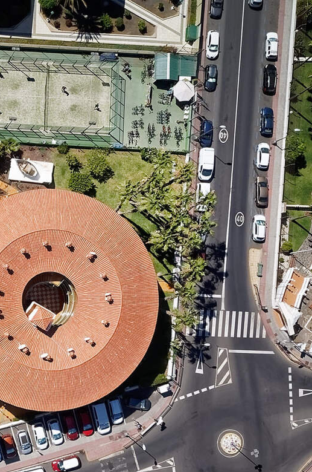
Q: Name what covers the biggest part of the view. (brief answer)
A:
paved ground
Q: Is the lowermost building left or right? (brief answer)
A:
left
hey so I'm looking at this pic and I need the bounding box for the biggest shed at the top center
[150,52,197,84]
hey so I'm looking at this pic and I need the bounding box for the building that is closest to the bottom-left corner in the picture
[0,189,159,410]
